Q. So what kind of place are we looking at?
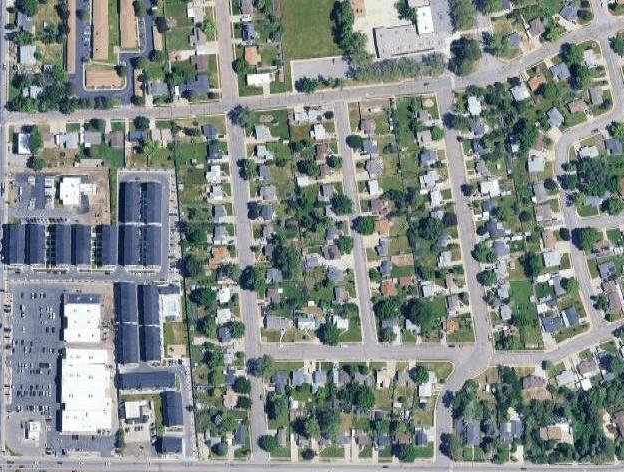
residential area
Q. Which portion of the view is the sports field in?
top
